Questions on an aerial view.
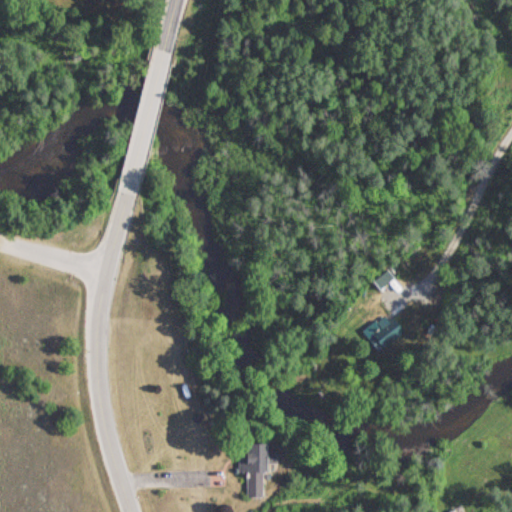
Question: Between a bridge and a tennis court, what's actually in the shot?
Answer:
bridge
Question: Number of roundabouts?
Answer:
0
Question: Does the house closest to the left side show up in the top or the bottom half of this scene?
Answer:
bottom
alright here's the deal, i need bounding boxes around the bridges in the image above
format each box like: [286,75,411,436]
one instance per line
[118,48,174,196]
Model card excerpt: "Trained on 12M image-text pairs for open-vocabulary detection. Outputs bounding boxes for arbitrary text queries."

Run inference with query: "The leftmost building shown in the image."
[238,444,279,498]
